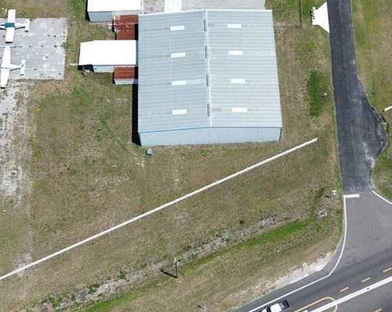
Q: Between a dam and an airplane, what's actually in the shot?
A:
airplane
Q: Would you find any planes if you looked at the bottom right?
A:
No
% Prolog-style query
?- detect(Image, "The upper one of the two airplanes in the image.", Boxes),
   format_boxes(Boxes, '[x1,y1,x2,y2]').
[0,9,33,41]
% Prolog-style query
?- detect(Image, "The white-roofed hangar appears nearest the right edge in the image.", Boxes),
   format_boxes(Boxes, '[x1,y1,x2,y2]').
[139,7,282,144]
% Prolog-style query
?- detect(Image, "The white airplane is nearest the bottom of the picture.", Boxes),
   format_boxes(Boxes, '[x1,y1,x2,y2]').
[0,46,29,87]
